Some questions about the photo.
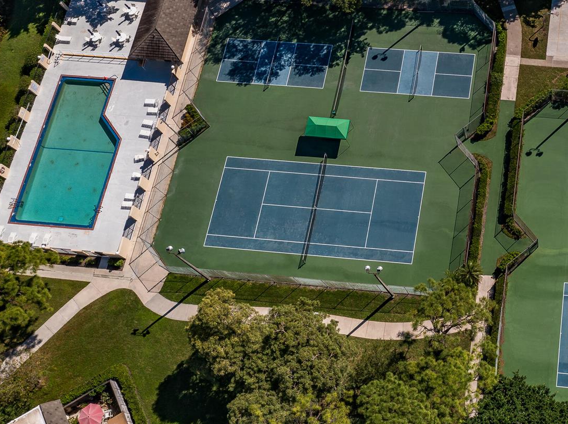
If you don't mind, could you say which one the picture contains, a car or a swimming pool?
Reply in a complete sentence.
I can see a swimming pool in this picture.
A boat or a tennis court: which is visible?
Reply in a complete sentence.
I can see a tennis court in this picture.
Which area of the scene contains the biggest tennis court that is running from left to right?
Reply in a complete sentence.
You can find the biggest tennis court that is running from left to right in the center area of the picture.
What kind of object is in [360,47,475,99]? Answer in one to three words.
sports court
